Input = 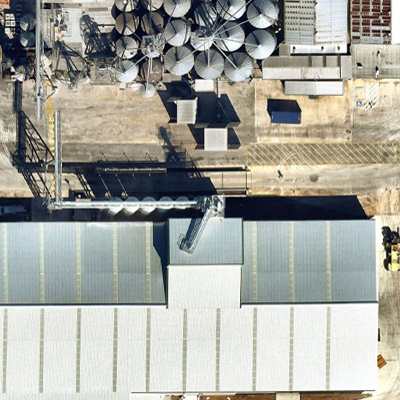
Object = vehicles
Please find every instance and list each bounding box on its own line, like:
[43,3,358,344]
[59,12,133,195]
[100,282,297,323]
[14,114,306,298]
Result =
[0,206,25,216]
[387,230,400,272]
